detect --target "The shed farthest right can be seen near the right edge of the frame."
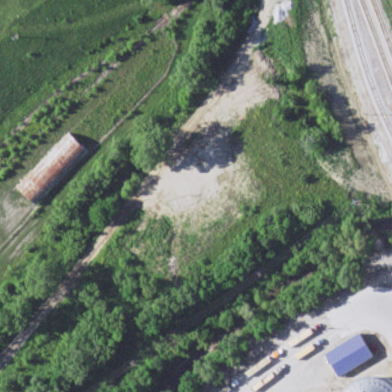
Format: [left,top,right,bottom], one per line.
[326,334,373,377]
